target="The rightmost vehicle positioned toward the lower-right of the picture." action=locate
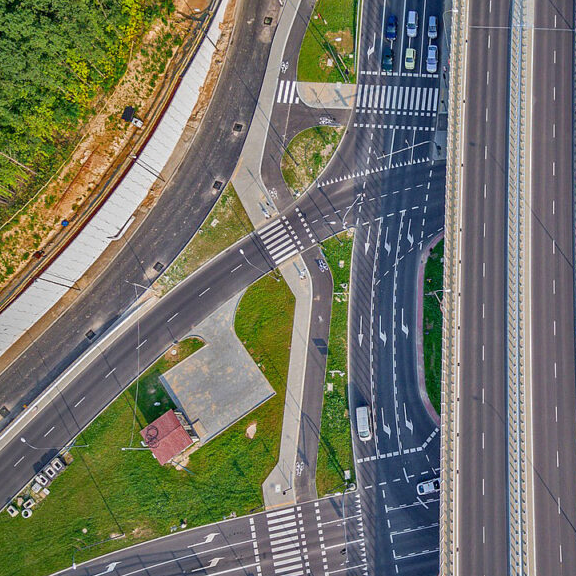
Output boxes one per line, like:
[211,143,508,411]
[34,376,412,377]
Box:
[416,477,439,495]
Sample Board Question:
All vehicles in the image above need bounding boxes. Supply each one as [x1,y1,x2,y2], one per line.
[385,15,399,42]
[355,406,372,442]
[426,16,439,40]
[381,45,395,71]
[404,47,417,70]
[405,12,419,39]
[416,477,439,495]
[425,45,439,73]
